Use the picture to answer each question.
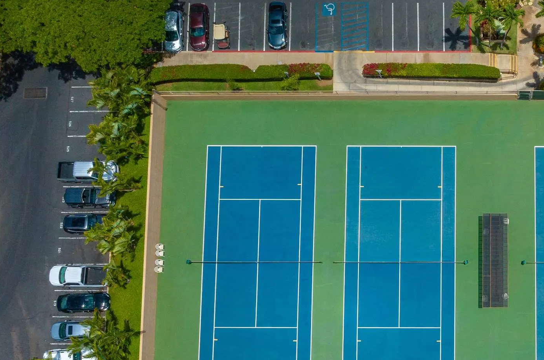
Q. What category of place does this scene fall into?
sports ground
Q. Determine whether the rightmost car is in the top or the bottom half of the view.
top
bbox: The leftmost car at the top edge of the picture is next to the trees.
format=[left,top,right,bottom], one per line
[161,9,187,55]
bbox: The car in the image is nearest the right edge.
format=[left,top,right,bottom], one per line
[266,2,289,50]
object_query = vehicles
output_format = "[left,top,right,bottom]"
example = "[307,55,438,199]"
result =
[43,347,97,360]
[61,213,111,235]
[266,2,289,50]
[212,22,230,49]
[56,291,112,314]
[47,264,111,289]
[50,319,101,342]
[161,9,187,55]
[64,188,115,209]
[56,160,122,184]
[187,4,212,53]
